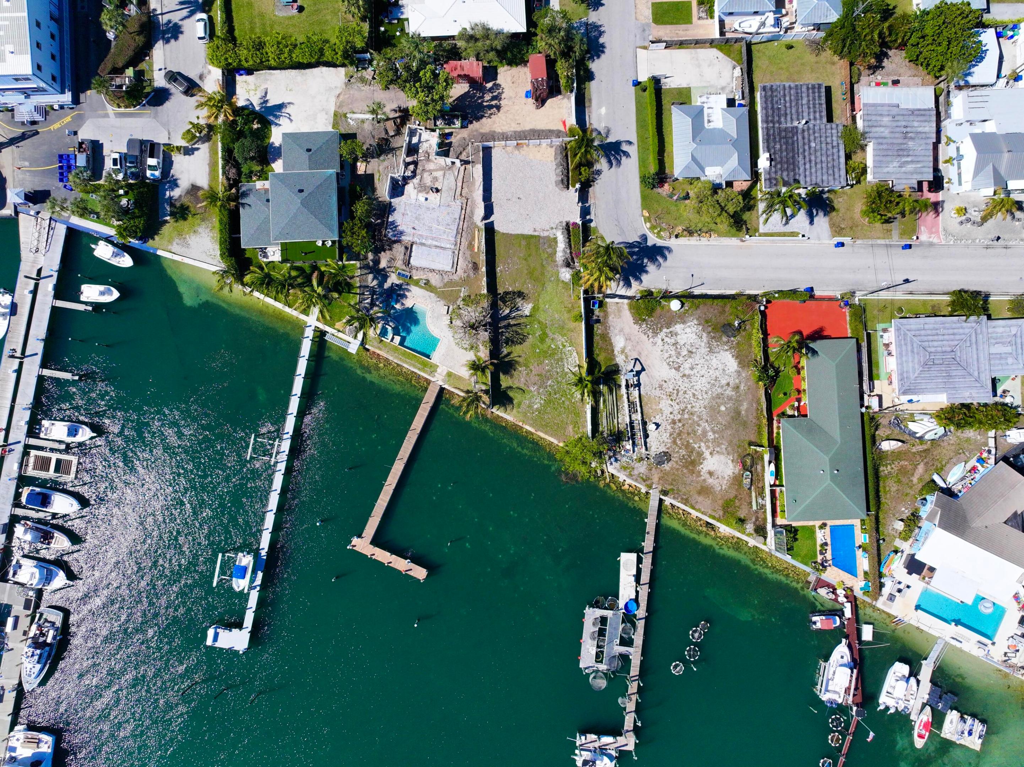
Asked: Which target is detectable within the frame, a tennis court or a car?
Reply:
car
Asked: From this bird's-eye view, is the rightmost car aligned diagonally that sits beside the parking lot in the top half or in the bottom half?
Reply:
top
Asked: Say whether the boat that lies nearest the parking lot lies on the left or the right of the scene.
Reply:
left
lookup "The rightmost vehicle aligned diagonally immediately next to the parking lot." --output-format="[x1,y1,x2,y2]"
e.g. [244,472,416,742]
[161,70,195,98]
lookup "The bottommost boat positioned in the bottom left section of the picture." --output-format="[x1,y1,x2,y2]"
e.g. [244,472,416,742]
[5,725,56,767]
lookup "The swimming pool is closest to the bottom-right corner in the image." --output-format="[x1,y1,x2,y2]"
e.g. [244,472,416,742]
[913,585,1010,645]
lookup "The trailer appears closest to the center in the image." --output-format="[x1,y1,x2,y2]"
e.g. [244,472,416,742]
[622,367,647,457]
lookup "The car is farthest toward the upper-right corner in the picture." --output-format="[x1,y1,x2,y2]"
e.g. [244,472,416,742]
[930,167,949,192]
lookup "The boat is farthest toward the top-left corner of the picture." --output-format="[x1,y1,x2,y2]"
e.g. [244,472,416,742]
[88,240,135,266]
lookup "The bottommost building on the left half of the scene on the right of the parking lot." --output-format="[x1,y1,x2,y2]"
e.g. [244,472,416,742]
[240,131,345,265]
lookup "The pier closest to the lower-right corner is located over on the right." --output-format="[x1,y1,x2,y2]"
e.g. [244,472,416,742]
[938,708,986,749]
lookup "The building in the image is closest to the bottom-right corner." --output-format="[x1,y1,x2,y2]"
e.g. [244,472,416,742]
[908,461,1024,605]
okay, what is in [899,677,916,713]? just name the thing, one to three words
boat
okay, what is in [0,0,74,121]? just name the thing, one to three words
building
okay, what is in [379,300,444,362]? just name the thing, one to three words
swimming pool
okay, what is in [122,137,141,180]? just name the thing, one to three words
car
